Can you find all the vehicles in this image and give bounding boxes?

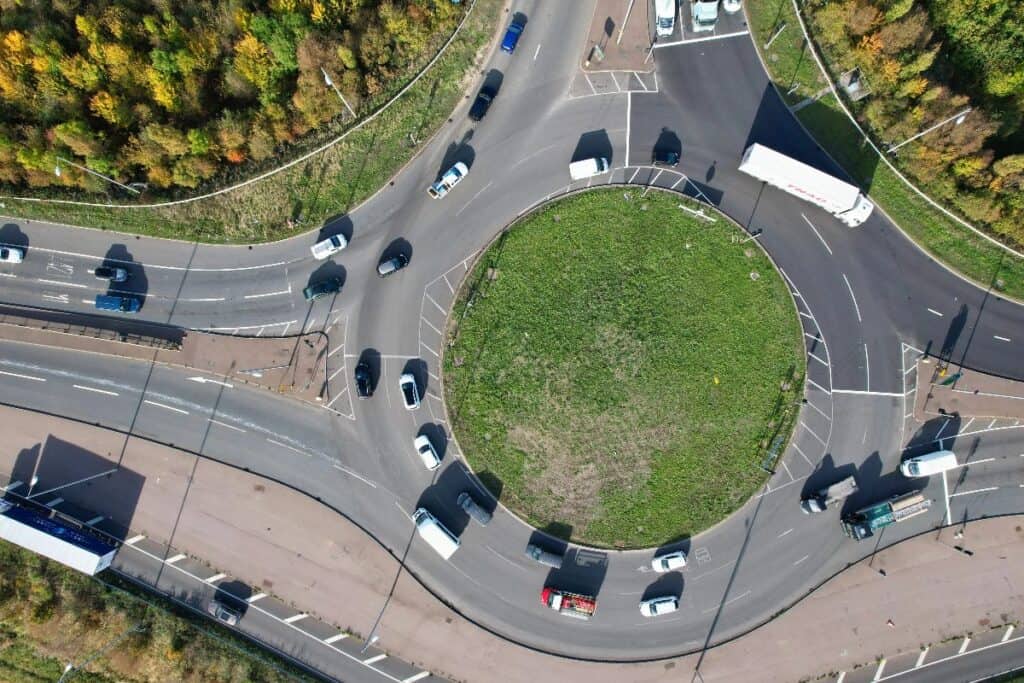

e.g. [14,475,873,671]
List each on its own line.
[95,266,130,283]
[410,504,461,560]
[652,551,686,572]
[458,492,493,525]
[0,498,119,576]
[649,151,682,170]
[723,0,741,14]
[304,281,343,302]
[525,542,564,569]
[541,588,597,620]
[838,491,922,539]
[209,599,243,626]
[798,475,857,516]
[501,22,523,55]
[466,86,494,124]
[308,234,350,261]
[898,451,959,477]
[416,433,441,471]
[568,156,610,182]
[640,594,679,616]
[0,246,25,264]
[736,143,871,228]
[376,253,409,278]
[428,163,471,200]
[400,372,421,410]
[95,294,142,313]
[654,0,676,36]
[354,361,373,399]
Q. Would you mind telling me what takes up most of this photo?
paved ground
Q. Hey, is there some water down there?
No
